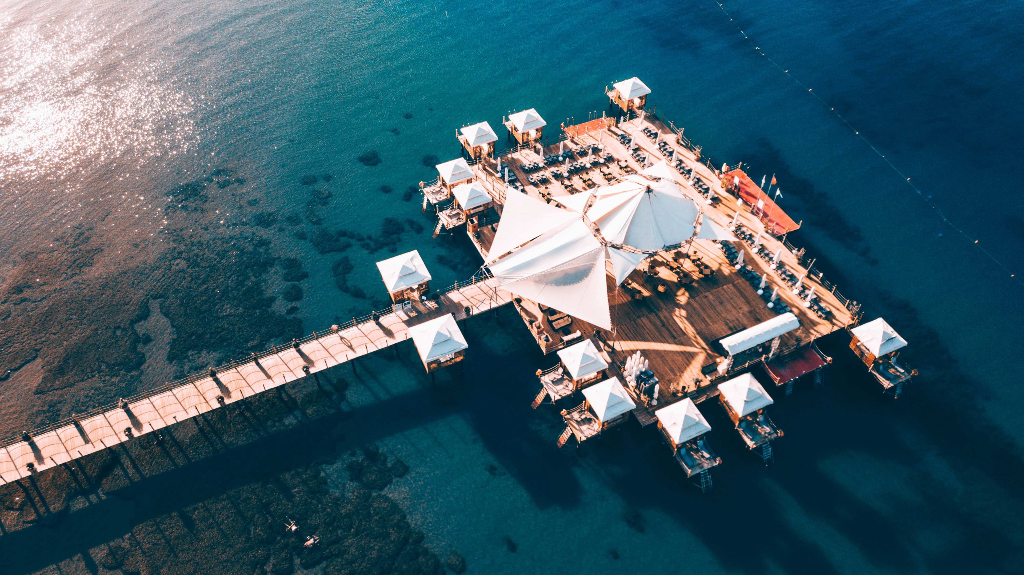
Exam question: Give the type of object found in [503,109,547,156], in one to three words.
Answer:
tent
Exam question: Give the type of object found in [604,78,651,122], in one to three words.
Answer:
tent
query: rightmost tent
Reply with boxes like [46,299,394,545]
[827,317,915,424]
